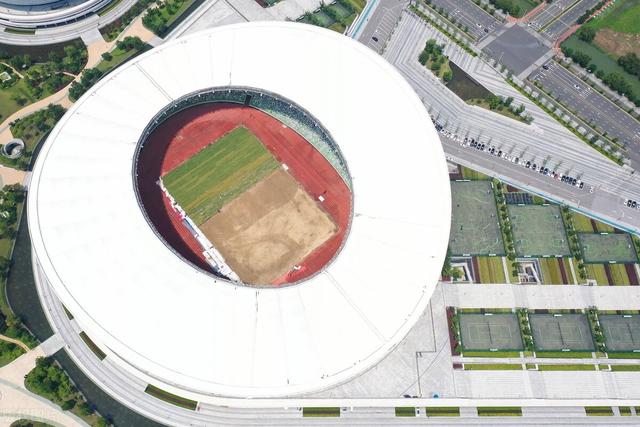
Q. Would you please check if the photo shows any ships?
No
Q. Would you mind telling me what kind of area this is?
sports ground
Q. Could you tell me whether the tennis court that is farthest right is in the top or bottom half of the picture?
bottom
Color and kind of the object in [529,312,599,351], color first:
gray tennis court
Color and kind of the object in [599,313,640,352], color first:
gray tennis court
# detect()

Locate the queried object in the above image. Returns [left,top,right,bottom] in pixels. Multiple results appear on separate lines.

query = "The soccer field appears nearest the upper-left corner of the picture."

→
[160,124,338,284]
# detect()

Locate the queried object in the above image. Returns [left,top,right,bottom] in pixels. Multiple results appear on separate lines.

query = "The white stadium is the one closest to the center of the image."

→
[28,20,452,400]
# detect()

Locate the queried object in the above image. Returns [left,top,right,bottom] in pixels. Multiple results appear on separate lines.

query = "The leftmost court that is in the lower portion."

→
[458,311,526,351]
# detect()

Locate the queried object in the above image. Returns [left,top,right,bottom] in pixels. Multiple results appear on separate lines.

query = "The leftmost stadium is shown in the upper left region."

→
[0,0,136,47]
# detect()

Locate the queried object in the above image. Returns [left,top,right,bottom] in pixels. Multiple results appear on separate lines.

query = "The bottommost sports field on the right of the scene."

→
[577,231,640,264]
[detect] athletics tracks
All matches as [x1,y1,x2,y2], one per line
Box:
[138,103,346,284]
